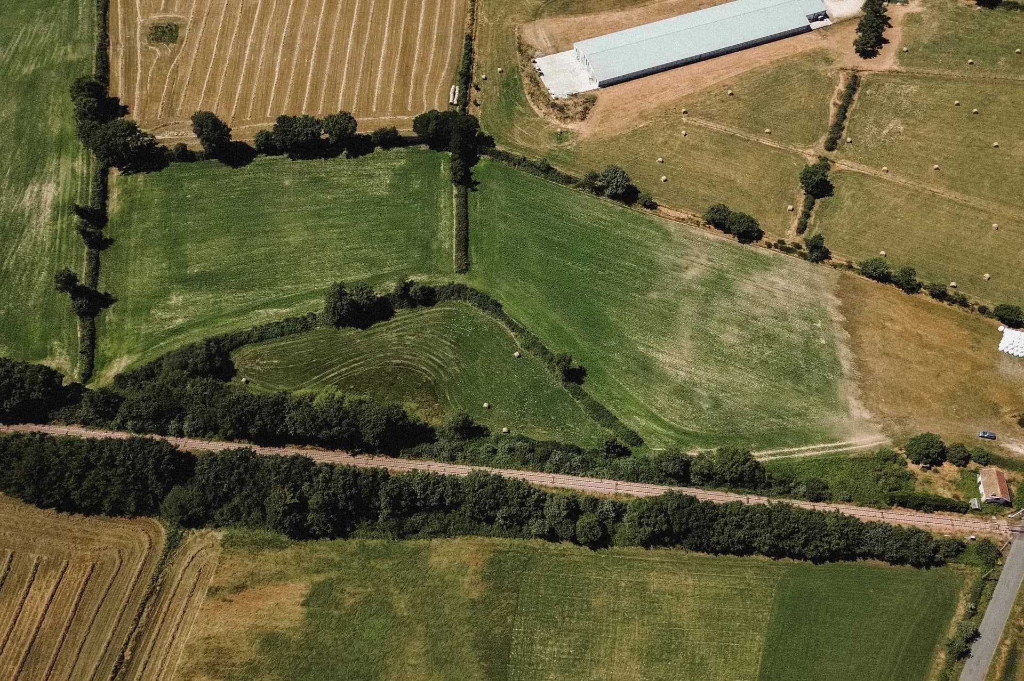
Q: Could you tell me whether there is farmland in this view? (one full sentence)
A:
Yes, the picture does contain farmland.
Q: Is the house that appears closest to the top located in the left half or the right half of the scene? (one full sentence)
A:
The house that appears closest to the top is on the right side of the image.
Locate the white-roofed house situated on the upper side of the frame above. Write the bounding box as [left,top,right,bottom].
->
[573,0,827,87]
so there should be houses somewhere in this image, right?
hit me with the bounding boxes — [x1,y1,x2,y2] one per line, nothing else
[573,0,827,87]
[974,467,1010,504]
